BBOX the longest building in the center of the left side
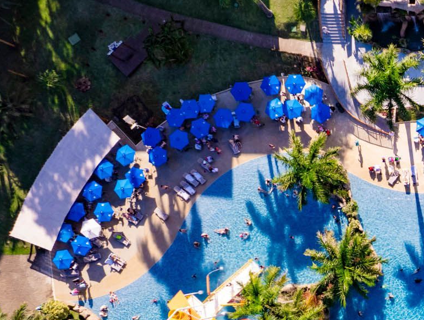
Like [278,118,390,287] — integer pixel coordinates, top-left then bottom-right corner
[8,108,125,250]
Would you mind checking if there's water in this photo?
Yes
